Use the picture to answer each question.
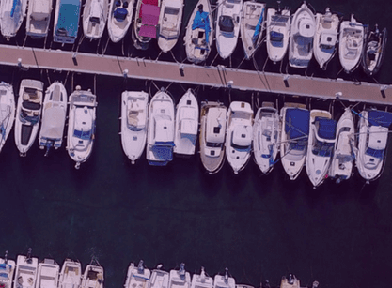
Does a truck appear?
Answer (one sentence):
No, the frame has no truck in it.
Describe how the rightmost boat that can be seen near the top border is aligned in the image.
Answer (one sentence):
Seen from above, the rightmost boat that can be seen near the top border lies vertically.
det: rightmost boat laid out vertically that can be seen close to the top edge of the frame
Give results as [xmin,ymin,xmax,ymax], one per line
[361,10,386,81]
